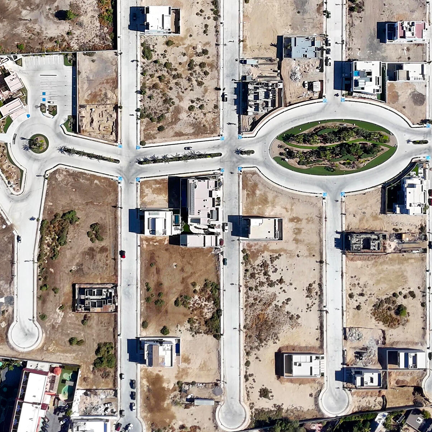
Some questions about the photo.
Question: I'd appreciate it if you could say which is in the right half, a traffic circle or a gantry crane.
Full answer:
There is a traffic circle in the right half.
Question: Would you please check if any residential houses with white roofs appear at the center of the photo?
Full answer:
Yes, there is a residential house with a white roof at the center of the photo.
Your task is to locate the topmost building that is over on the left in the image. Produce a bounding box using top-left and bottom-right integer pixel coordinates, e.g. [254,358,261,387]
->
[142,5,180,36]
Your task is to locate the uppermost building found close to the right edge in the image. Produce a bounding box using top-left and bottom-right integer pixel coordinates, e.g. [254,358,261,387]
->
[385,22,427,44]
